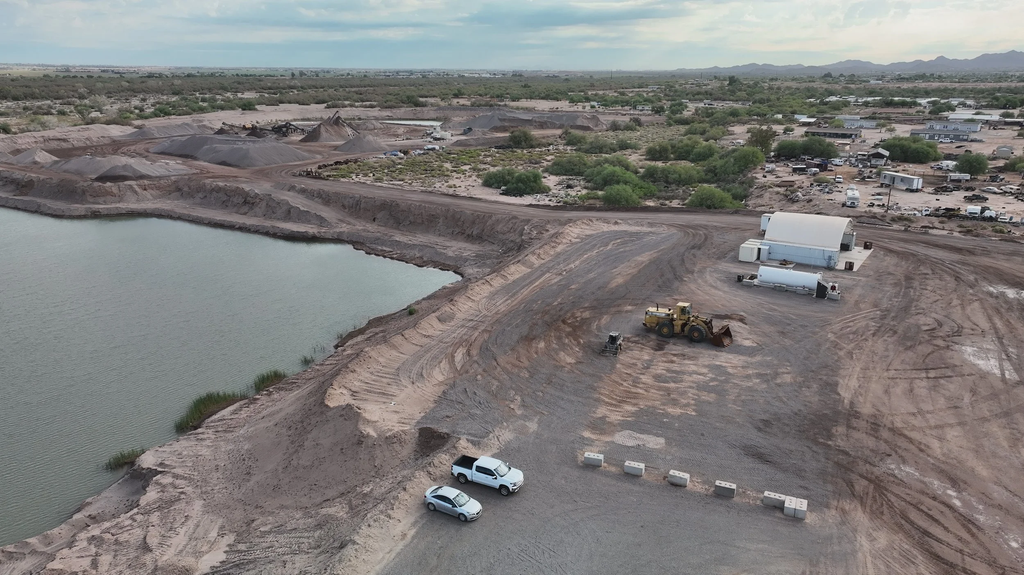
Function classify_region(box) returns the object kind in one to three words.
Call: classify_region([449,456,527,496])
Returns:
truck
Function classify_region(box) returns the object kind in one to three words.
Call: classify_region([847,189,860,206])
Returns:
vehicle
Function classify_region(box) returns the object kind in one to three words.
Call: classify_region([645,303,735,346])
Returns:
work vehicle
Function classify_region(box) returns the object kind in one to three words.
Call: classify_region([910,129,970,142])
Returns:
house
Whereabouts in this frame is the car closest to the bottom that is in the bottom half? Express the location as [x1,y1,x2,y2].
[420,486,484,521]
